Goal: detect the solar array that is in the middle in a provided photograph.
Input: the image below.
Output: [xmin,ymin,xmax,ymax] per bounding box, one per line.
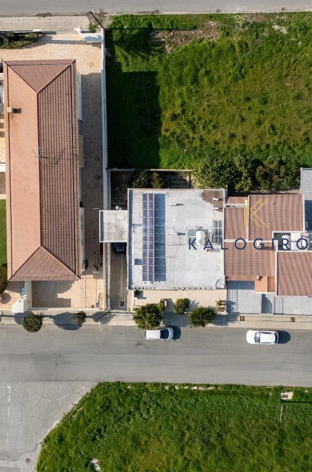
[142,193,154,282]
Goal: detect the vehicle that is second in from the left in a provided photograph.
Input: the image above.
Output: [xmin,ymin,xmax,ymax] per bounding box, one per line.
[143,326,174,342]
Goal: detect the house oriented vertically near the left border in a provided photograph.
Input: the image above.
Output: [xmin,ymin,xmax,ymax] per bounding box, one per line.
[2,59,92,281]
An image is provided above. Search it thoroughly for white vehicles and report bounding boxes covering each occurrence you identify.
[246,329,278,346]
[143,326,174,342]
